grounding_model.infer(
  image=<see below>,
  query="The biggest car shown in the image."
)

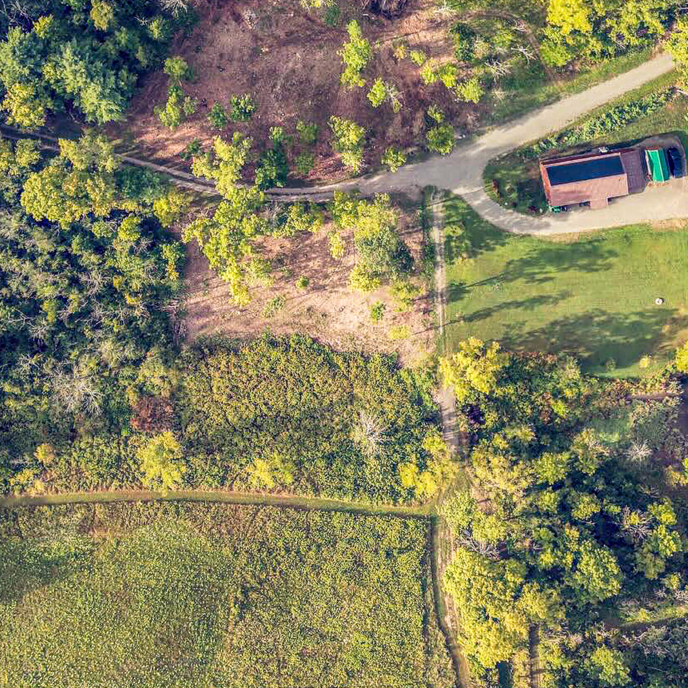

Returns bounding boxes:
[669,146,682,172]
